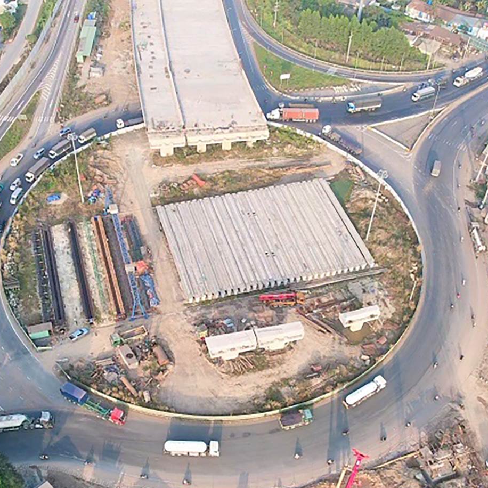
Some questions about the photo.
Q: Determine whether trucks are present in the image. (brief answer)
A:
Yes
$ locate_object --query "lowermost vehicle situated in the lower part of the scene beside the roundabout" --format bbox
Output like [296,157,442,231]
[165,439,219,456]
